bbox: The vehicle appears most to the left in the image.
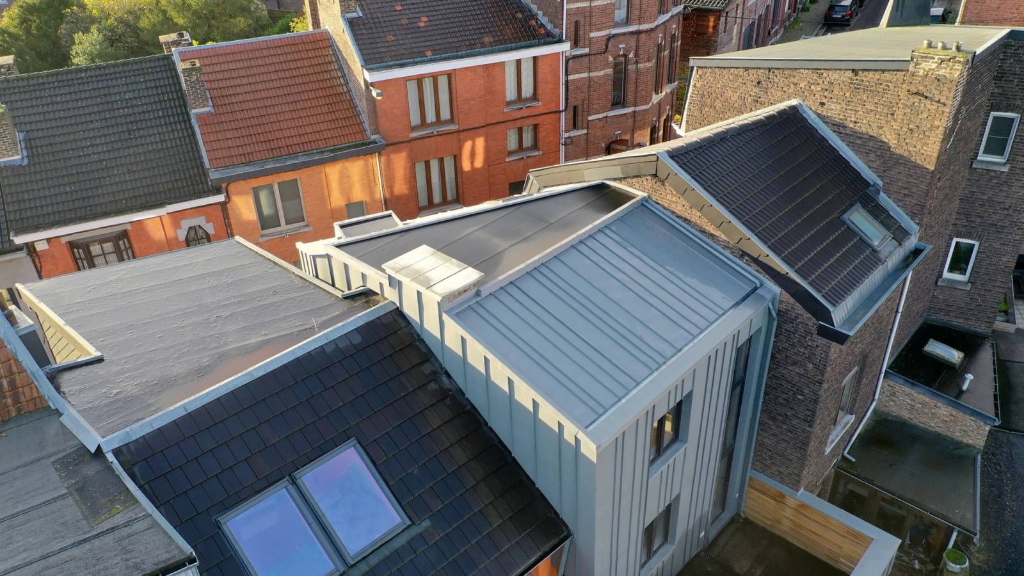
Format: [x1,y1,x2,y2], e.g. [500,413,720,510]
[814,3,863,34]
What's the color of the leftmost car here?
black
